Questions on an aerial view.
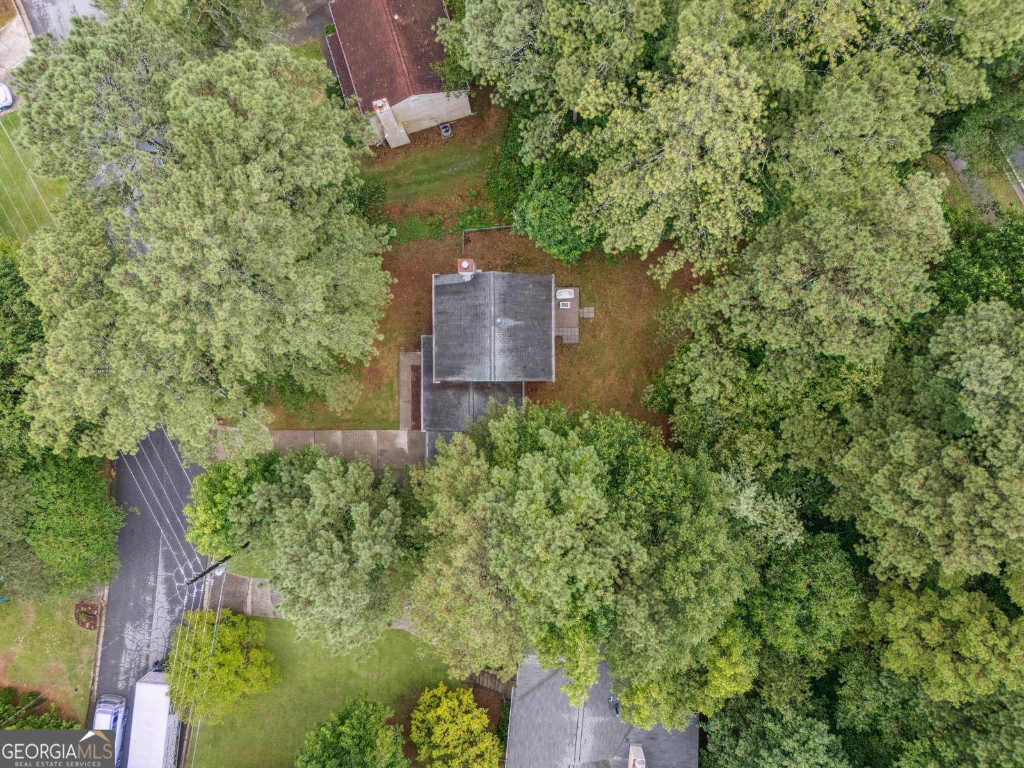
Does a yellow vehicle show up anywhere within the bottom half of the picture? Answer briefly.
No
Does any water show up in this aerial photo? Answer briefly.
No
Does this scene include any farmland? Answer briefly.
No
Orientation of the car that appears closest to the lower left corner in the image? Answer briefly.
vertically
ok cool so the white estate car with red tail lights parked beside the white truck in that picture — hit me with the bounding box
[89,696,128,764]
